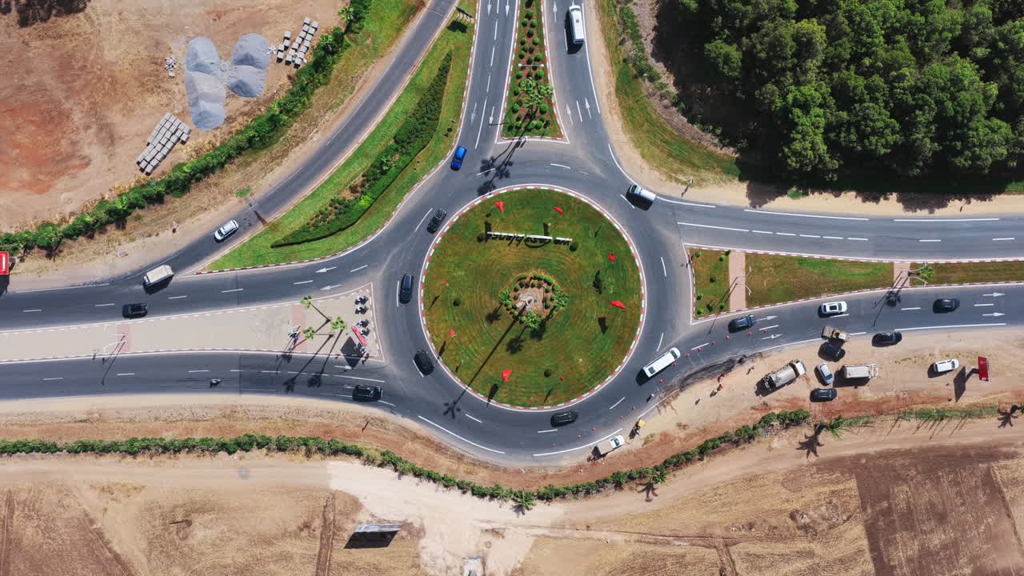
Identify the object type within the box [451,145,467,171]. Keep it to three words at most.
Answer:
car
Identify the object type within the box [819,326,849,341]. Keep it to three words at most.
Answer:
work vehicle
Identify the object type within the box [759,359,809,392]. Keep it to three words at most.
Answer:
truck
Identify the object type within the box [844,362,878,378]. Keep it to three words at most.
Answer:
vehicle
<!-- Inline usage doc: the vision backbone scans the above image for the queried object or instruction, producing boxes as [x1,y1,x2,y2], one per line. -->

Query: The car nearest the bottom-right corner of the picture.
[931,358,958,373]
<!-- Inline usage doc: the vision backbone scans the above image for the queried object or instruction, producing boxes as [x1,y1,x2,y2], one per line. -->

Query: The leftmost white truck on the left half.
[145,263,177,286]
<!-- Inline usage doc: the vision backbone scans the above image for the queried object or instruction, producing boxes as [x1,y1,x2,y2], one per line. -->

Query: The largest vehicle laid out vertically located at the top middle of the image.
[569,6,583,45]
